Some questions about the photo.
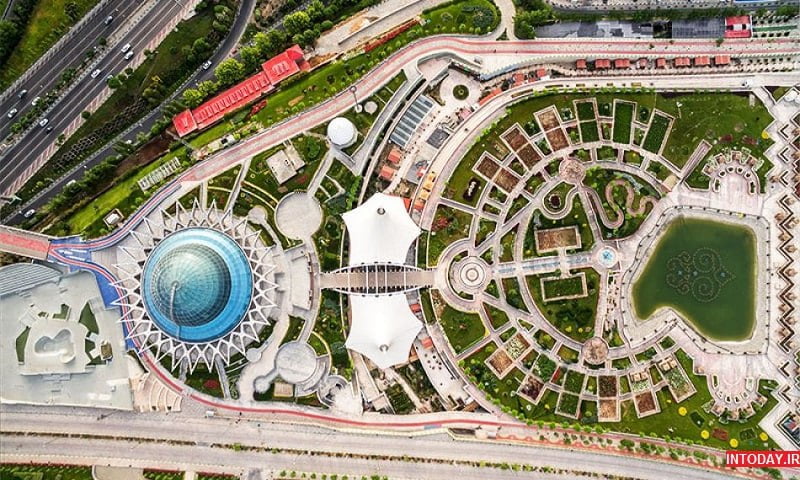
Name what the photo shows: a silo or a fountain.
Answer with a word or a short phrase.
fountain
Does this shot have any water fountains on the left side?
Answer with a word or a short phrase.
No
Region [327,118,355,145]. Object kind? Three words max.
building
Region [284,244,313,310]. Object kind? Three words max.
house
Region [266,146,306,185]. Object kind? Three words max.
building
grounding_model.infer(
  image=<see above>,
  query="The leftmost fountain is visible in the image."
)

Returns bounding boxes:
[591,242,622,272]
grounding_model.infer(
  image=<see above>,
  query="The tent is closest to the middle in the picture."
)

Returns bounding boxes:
[339,190,425,269]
